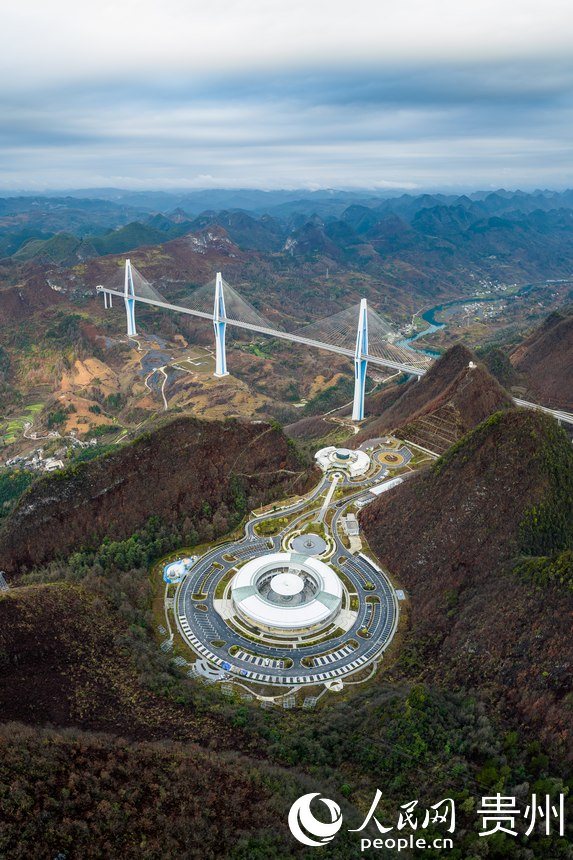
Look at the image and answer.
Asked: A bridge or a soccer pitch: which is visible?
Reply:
bridge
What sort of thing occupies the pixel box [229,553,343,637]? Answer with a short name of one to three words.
building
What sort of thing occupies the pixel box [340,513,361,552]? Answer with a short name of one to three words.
building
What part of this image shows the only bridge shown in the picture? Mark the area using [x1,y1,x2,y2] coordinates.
[83,259,421,416]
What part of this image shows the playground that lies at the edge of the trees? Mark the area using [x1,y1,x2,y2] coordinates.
[164,554,199,584]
